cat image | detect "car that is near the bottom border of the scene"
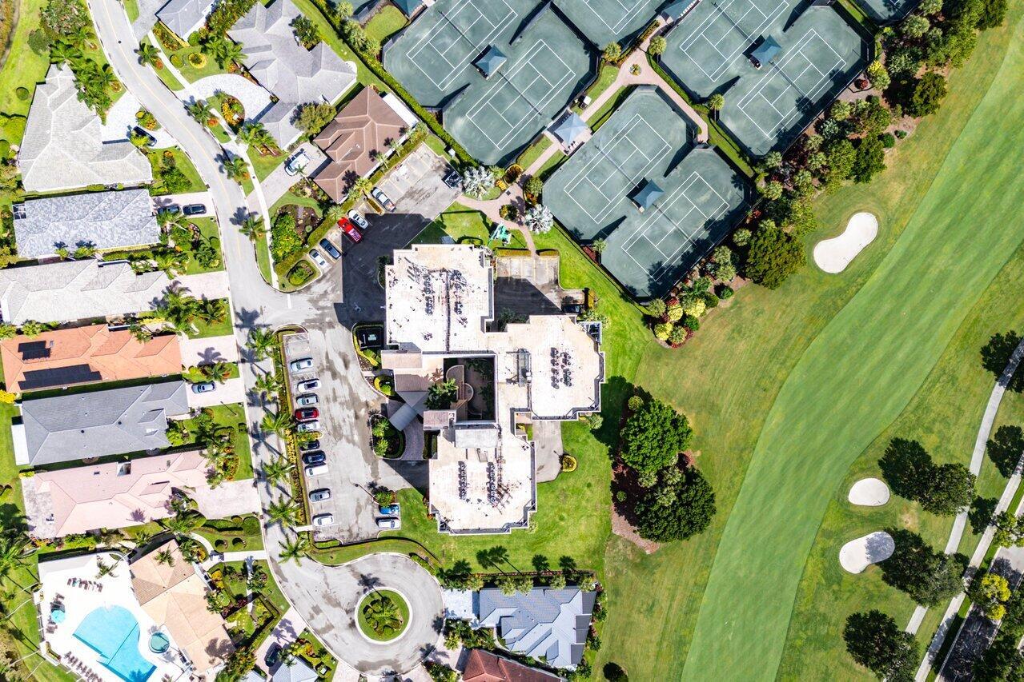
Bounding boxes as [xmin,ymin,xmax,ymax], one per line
[265,644,281,666]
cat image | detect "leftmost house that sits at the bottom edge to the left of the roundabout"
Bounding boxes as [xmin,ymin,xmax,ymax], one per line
[129,538,239,674]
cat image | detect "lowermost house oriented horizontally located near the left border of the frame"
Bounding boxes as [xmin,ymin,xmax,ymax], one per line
[33,449,212,538]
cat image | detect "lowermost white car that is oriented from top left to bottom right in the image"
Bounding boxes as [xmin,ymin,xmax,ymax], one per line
[309,248,328,268]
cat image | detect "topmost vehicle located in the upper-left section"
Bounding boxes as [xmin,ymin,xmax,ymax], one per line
[133,127,155,143]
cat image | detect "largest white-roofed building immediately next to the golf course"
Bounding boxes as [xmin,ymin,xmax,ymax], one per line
[381,244,605,535]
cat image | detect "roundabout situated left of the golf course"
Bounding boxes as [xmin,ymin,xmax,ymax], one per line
[355,587,411,644]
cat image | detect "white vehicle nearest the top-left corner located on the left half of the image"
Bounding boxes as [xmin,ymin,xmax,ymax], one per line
[287,152,307,173]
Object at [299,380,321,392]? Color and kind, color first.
white vehicle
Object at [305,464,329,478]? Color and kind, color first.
white vehicle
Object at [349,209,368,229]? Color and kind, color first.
white car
